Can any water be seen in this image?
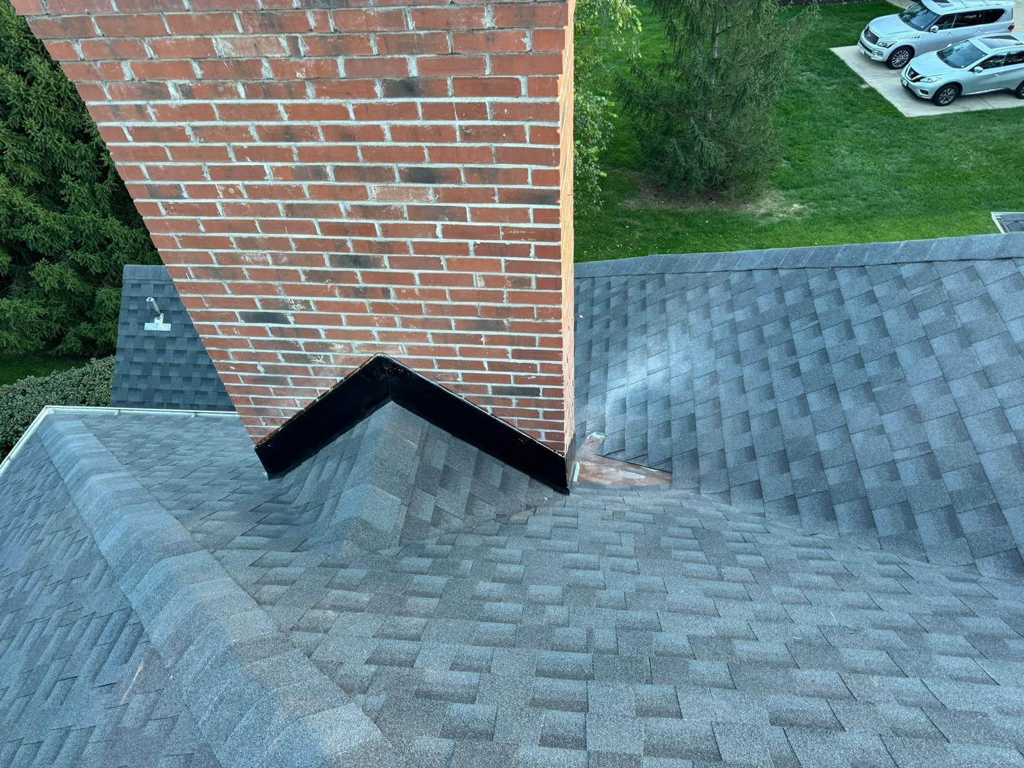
No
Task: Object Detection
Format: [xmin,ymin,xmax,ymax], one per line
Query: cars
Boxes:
[905,33,1024,106]
[860,0,1024,69]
